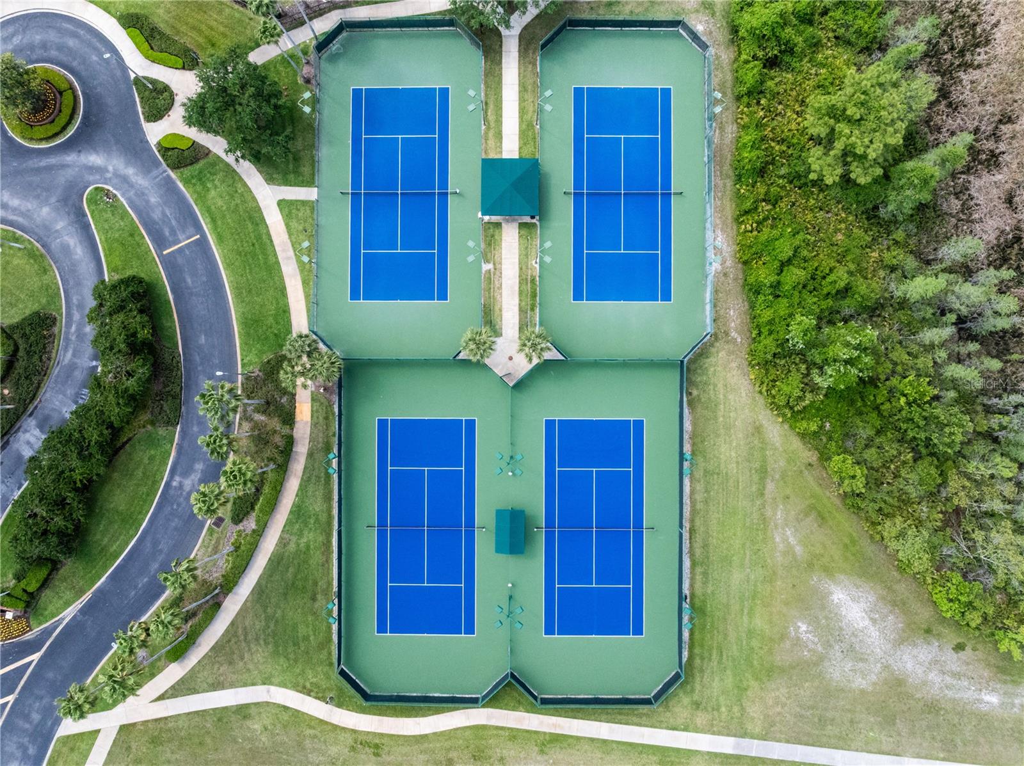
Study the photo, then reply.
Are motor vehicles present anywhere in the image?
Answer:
No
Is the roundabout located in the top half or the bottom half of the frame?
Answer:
top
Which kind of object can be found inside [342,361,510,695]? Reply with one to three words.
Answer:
tennis court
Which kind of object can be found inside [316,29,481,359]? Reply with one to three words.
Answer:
tennis court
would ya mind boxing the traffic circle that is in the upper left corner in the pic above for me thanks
[0,63,82,148]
